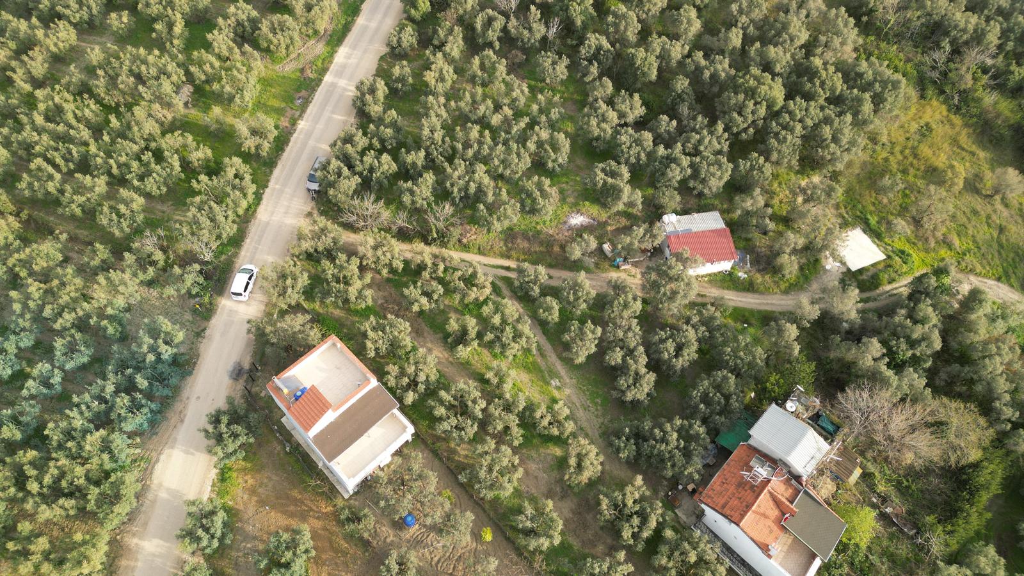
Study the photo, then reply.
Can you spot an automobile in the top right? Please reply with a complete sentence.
No, there is no automobile in the top right.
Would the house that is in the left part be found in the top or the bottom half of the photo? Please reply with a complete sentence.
The house that is in the left part sits in the bottom half of the picture.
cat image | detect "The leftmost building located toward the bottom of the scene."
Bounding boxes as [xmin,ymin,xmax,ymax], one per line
[265,334,416,495]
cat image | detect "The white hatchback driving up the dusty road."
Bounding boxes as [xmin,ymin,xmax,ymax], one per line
[229,265,257,300]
